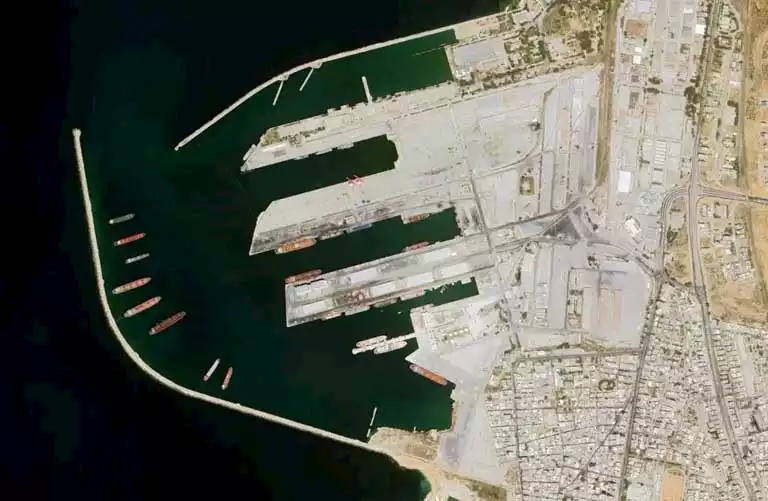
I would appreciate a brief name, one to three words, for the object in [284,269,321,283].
ship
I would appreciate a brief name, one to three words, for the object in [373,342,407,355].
ship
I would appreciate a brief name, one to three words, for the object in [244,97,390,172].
pier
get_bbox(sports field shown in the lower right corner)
[658,470,682,501]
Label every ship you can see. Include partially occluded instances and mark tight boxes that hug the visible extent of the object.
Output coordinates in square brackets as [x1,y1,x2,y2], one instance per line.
[114,233,146,244]
[410,364,447,385]
[344,307,370,316]
[125,254,149,262]
[112,277,152,293]
[123,296,162,317]
[284,269,321,283]
[148,311,186,335]
[346,224,372,233]
[222,368,232,389]
[373,342,407,355]
[405,242,430,252]
[337,144,354,152]
[320,232,344,240]
[374,299,398,308]
[403,213,430,223]
[400,291,426,301]
[356,335,387,346]
[275,240,317,255]
[323,314,342,322]
[412,304,433,312]
[110,214,135,223]
[204,359,219,380]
